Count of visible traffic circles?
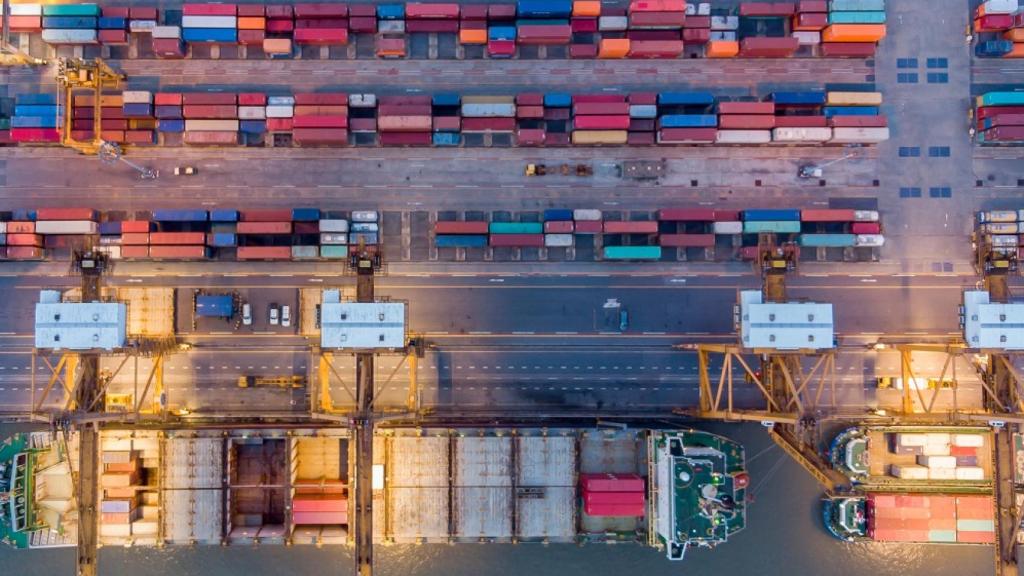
0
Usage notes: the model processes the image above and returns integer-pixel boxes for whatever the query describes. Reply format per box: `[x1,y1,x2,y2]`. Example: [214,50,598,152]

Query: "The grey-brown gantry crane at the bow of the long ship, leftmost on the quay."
[29,233,189,576]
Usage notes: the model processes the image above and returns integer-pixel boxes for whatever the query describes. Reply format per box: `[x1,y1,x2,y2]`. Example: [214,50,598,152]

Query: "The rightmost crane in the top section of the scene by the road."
[58,56,127,154]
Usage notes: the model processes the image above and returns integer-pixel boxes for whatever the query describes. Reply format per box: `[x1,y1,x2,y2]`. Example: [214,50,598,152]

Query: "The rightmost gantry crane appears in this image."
[874,233,1024,576]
